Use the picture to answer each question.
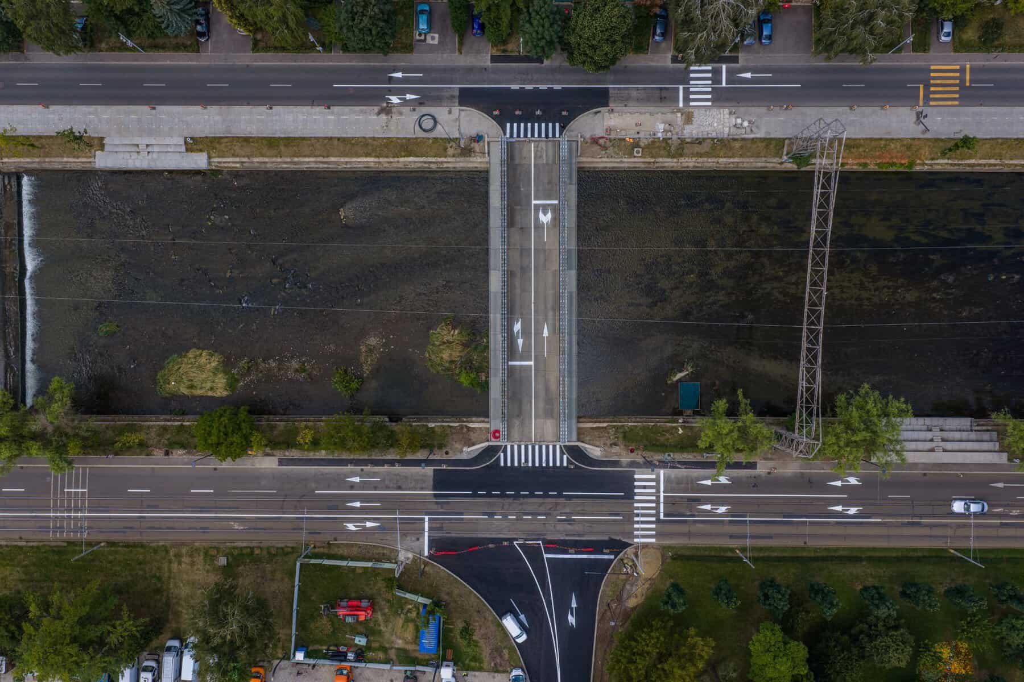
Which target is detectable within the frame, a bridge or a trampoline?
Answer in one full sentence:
There is a bridge in the scene.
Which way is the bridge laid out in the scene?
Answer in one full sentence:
The bridge is laid out up and down.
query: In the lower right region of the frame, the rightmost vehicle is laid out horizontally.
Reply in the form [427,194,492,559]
[949,499,987,515]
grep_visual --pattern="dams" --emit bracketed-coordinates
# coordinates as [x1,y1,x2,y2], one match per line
[3,172,25,412]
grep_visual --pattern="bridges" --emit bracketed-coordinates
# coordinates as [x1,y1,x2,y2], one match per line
[487,134,578,446]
